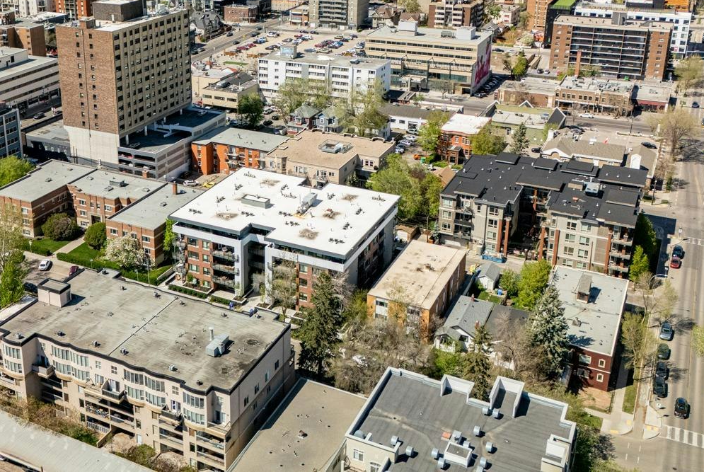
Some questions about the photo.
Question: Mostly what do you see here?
buildings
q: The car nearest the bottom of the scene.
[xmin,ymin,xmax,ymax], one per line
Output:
[675,399,689,417]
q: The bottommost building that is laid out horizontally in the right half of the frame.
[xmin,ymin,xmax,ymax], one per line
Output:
[345,367,579,472]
